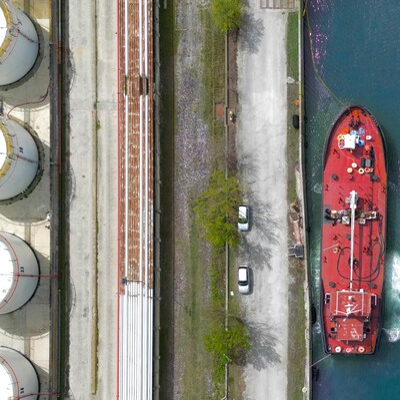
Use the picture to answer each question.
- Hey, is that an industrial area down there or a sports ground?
industrial area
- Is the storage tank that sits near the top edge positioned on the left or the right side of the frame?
left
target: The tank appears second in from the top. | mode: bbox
[0,112,59,205]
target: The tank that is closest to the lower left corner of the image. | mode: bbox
[0,345,59,400]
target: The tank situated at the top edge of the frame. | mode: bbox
[0,0,59,90]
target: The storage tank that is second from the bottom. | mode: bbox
[0,229,59,315]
